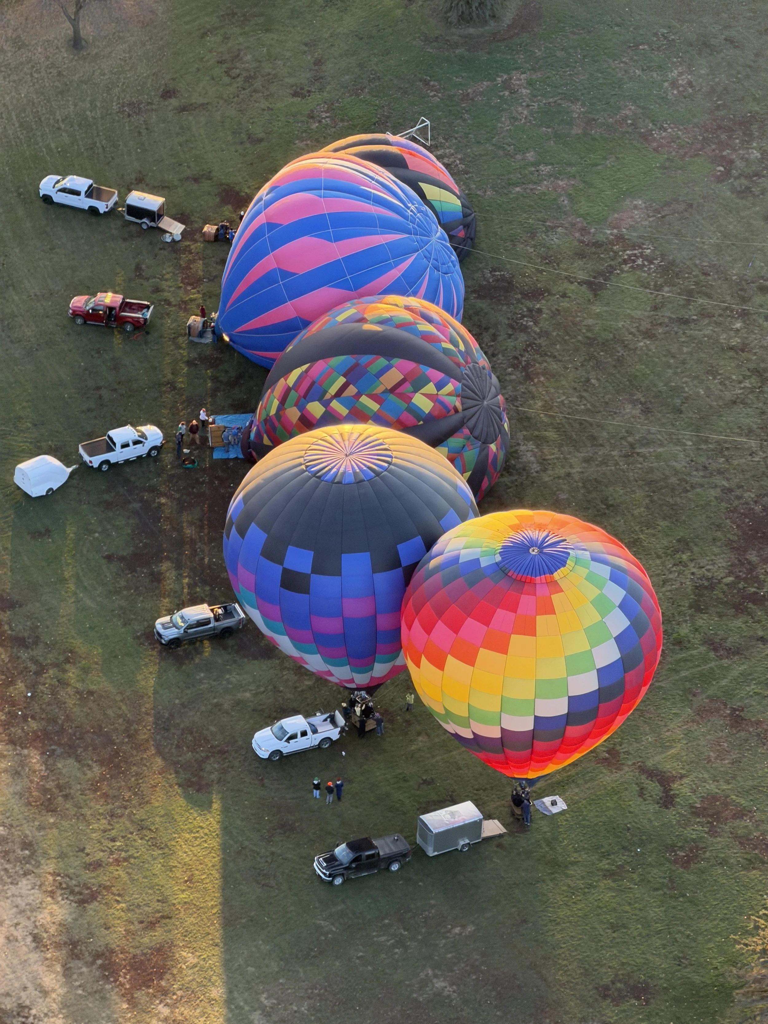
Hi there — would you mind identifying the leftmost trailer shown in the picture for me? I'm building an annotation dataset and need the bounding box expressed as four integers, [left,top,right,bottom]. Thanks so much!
[15,462,69,499]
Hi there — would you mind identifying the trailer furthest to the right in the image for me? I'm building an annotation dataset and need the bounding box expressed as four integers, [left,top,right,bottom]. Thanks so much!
[412,799,509,855]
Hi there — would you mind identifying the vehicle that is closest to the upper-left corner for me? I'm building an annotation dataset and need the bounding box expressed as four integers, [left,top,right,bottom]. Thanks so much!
[38,177,119,217]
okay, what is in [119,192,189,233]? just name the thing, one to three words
trailer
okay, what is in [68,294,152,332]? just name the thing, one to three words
truck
